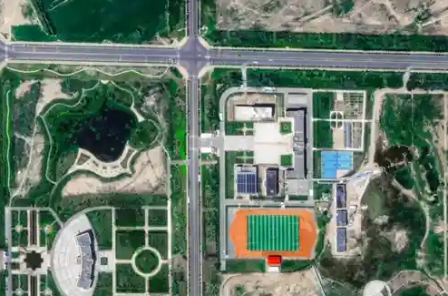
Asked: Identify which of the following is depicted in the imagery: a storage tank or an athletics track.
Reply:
athletics track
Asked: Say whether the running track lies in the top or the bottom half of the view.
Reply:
bottom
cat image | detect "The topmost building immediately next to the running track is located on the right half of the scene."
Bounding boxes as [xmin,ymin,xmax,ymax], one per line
[288,108,304,178]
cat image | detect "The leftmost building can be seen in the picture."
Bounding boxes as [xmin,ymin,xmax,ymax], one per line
[72,232,97,289]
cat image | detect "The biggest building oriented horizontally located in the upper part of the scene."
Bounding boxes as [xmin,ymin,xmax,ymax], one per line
[235,106,272,120]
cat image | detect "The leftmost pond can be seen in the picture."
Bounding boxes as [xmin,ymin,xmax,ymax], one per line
[79,106,133,162]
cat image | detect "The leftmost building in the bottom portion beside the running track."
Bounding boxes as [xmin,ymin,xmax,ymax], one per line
[236,165,257,195]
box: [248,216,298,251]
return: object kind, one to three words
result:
sports field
